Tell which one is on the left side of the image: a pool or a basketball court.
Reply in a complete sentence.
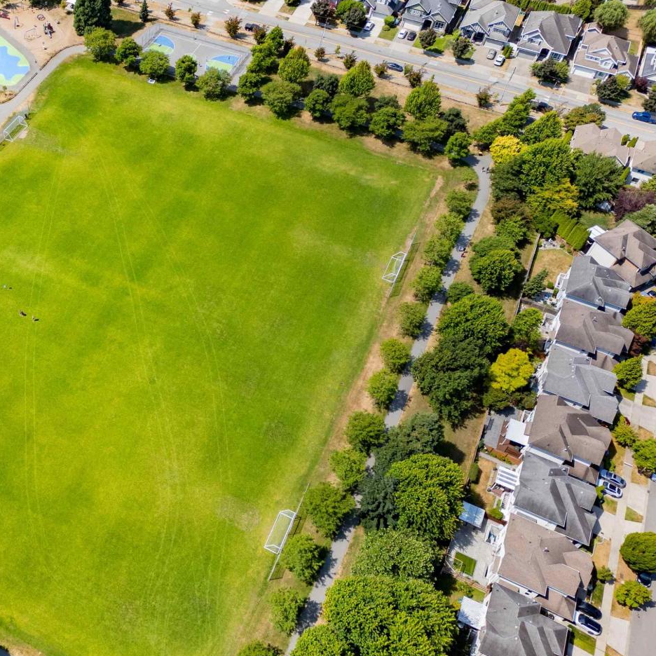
The one visible on the left side of the image is a basketball court.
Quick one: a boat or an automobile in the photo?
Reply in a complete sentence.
Looking from above, you can make out an automobile.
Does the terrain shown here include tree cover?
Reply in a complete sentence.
Yes, there is tree cover in the image.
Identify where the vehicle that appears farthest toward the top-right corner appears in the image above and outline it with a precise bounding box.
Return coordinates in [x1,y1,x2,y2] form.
[633,112,656,124]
